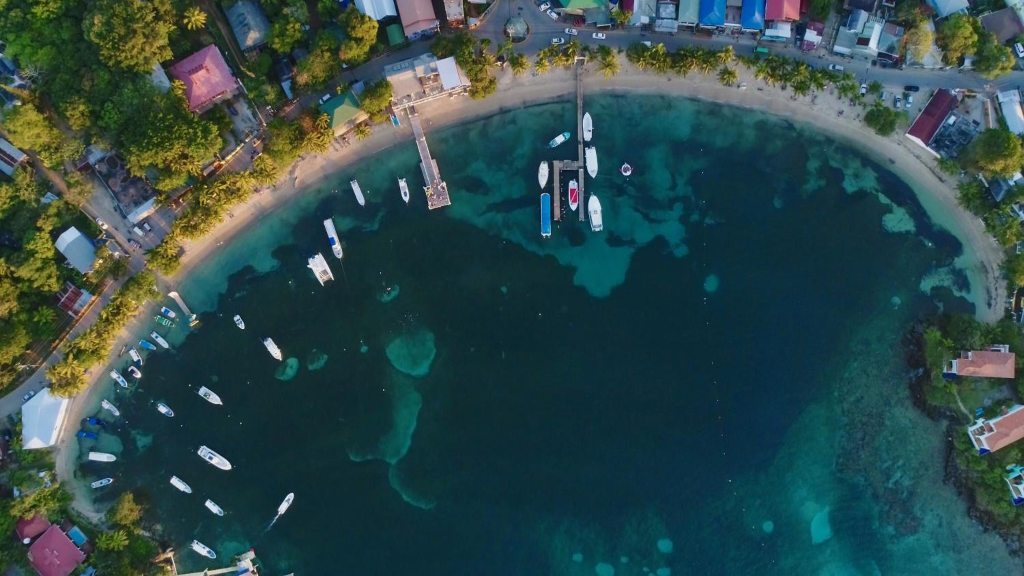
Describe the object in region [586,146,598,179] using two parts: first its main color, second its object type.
white boat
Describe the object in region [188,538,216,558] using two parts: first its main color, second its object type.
white boat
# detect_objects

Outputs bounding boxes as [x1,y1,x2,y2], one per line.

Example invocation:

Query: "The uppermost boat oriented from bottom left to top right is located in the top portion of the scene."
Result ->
[548,133,570,149]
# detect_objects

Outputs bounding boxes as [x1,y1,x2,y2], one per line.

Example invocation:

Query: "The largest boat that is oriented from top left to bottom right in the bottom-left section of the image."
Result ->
[197,445,232,470]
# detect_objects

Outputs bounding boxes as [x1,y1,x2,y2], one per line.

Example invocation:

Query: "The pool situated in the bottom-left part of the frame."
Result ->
[64,518,92,559]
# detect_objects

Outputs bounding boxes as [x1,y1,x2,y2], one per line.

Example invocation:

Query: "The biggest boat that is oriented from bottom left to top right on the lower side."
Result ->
[278,492,295,514]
